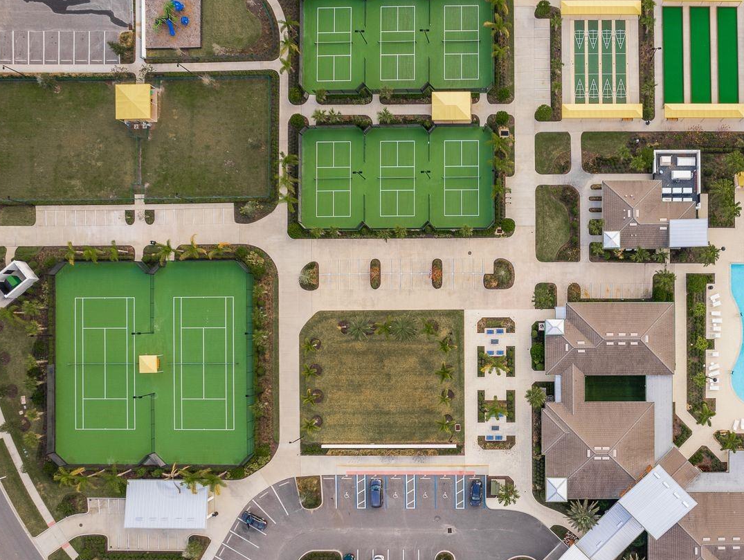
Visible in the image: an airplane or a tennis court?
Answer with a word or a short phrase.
tennis court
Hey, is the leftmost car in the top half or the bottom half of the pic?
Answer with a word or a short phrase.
bottom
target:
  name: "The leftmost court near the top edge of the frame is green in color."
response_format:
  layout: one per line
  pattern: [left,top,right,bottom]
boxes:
[303,0,366,90]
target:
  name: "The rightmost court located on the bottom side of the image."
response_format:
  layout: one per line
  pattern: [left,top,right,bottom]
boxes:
[150,261,253,465]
